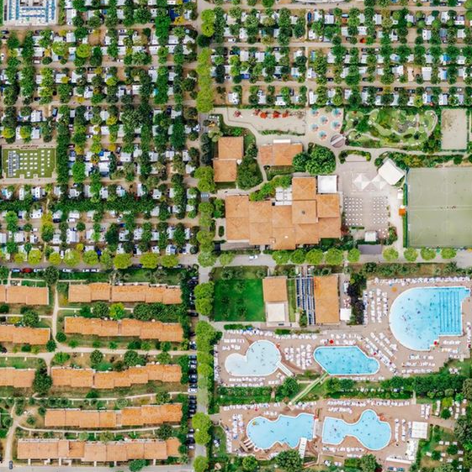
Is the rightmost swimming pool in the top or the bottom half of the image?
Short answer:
bottom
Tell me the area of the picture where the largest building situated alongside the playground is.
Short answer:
center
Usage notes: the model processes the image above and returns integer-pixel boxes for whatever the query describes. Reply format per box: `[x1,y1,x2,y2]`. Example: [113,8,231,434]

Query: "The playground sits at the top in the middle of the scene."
[211,106,345,149]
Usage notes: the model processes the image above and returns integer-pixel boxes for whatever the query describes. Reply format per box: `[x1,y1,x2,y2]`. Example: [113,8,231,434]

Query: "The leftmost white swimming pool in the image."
[225,341,282,376]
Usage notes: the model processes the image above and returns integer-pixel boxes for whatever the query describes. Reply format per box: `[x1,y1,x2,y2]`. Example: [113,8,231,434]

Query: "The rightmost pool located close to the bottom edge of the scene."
[321,409,392,451]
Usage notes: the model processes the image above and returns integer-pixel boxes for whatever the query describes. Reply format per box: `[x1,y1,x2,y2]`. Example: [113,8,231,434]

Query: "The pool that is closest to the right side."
[388,286,471,351]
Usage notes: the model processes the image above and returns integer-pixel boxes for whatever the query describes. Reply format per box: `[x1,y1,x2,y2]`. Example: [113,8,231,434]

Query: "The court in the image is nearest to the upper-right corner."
[441,109,467,149]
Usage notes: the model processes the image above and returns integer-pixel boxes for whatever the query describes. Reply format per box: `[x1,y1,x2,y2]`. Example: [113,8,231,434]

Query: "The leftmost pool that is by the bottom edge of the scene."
[246,413,313,451]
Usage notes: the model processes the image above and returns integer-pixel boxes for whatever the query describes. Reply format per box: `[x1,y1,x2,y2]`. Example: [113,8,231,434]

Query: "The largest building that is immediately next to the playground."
[226,175,341,250]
